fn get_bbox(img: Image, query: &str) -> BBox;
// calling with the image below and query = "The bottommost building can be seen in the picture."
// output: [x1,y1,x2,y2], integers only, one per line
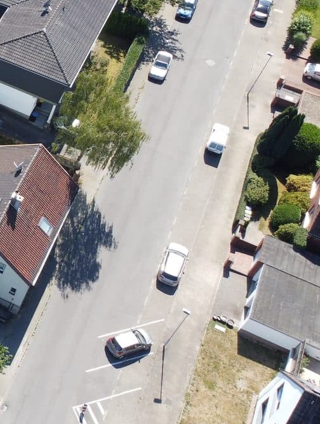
[251,365,320,424]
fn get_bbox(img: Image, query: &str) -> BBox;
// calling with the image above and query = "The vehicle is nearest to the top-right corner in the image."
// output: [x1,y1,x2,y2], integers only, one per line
[251,0,277,21]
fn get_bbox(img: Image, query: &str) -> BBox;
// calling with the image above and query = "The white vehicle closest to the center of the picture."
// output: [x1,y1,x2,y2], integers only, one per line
[158,240,192,286]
